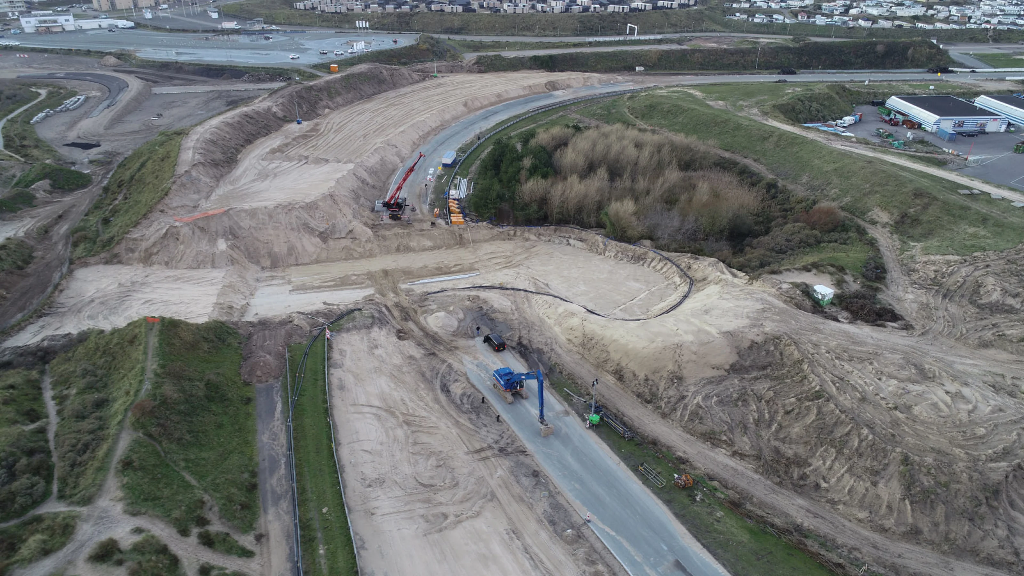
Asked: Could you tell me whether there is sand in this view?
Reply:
Yes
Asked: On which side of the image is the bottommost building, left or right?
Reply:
right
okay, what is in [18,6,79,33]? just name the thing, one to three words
building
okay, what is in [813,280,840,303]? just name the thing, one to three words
building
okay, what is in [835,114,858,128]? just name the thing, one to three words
vehicle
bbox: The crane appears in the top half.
[378,153,430,223]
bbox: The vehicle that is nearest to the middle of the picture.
[480,333,507,354]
